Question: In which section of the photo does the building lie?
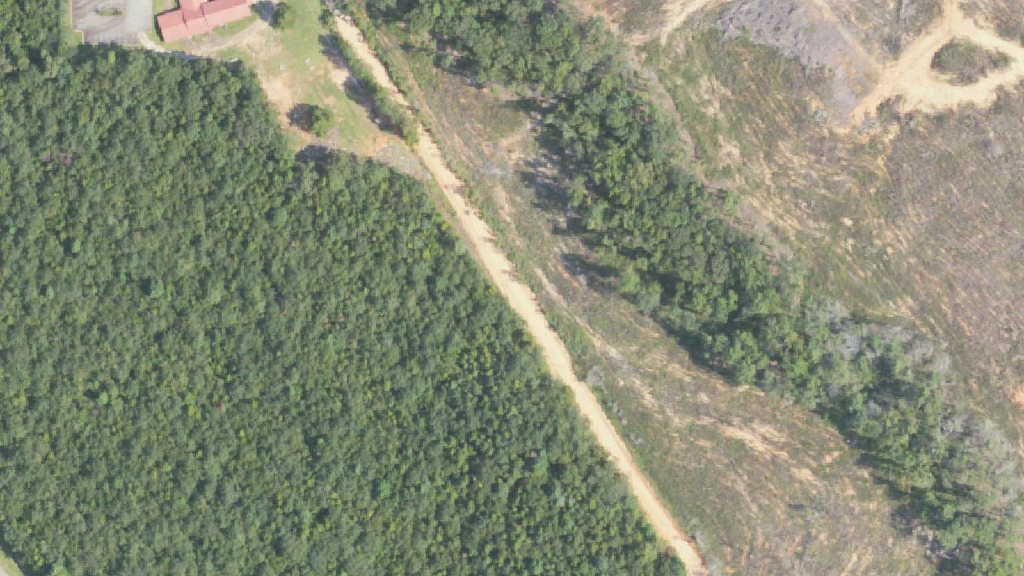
top left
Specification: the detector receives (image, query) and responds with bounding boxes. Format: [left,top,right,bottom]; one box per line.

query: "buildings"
[158,0,254,43]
